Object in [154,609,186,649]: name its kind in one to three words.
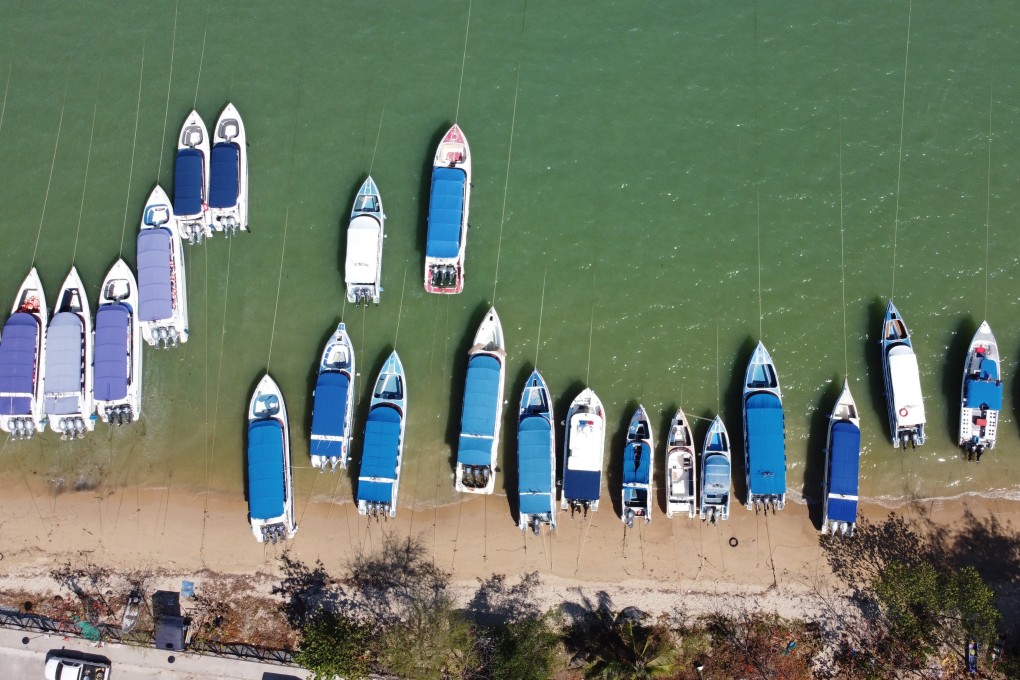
shed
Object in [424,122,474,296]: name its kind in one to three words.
boat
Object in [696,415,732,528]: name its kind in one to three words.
boat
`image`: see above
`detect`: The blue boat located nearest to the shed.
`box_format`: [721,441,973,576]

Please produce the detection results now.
[248,374,298,545]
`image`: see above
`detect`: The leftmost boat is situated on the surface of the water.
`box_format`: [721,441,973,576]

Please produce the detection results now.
[0,266,54,437]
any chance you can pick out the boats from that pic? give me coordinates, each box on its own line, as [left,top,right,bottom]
[424,122,474,296]
[955,321,1002,455]
[819,378,863,542]
[696,415,732,528]
[0,266,54,437]
[95,258,146,425]
[623,405,653,530]
[43,266,98,436]
[358,349,406,522]
[307,323,360,473]
[876,302,929,455]
[207,102,254,235]
[665,407,698,517]
[137,184,191,347]
[248,374,298,545]
[172,110,214,242]
[456,306,506,494]
[518,368,554,535]
[738,340,790,514]
[560,388,605,516]
[344,175,387,308]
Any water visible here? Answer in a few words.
Yes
